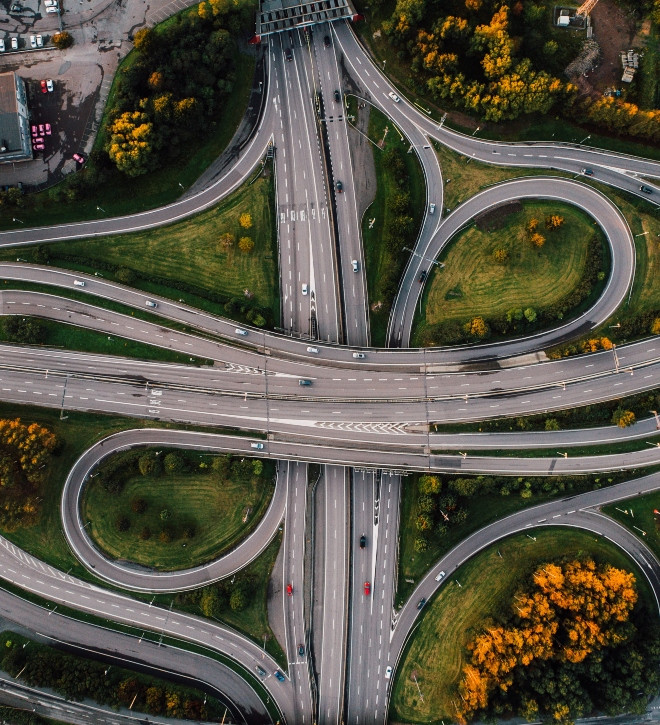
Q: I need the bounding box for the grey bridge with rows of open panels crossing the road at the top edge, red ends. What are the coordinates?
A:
[246,0,363,49]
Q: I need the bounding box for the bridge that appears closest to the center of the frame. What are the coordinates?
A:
[258,331,433,474]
